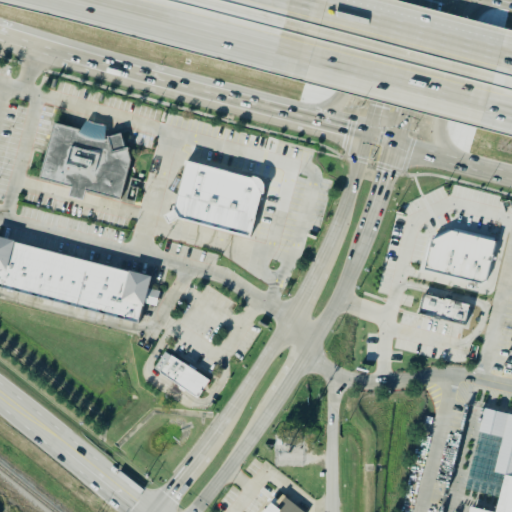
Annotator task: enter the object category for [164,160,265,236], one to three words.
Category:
building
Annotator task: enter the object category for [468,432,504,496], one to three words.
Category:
house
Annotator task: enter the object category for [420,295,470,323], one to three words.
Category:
building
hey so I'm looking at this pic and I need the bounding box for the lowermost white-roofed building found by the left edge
[0,238,151,321]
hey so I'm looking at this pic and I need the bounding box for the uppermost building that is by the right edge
[425,230,497,282]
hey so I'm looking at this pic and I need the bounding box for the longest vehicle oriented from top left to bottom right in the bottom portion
[112,466,144,494]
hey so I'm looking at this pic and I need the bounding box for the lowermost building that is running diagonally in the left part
[155,352,210,398]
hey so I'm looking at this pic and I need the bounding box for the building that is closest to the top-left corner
[40,120,131,198]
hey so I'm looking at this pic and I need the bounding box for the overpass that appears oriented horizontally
[0,0,512,135]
